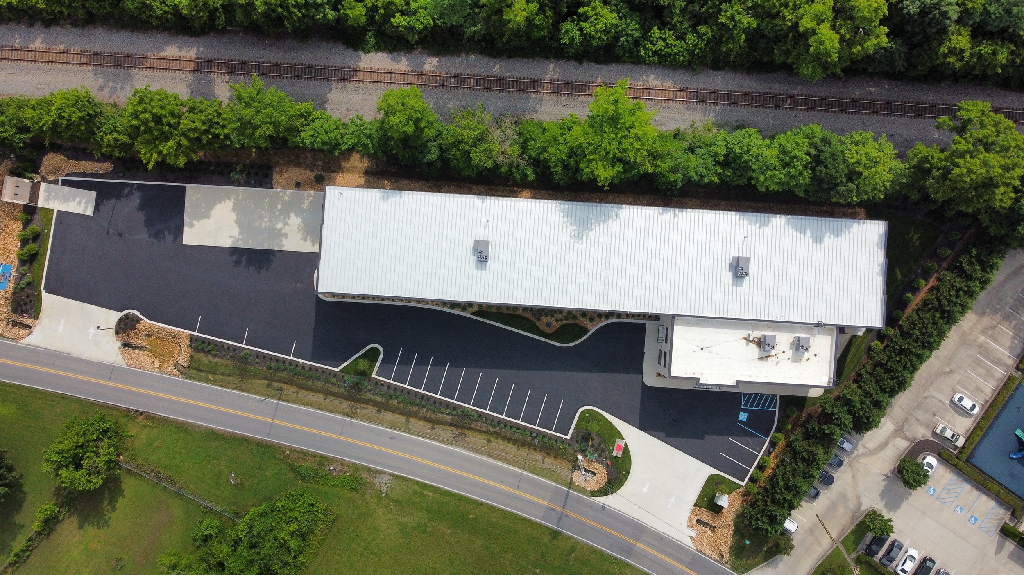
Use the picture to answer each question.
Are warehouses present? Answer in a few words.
Yes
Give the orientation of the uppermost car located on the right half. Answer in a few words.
at an angle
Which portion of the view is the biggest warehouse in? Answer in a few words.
center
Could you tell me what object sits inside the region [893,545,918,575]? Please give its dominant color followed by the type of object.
white car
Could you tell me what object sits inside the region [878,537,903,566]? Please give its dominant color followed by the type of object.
gray car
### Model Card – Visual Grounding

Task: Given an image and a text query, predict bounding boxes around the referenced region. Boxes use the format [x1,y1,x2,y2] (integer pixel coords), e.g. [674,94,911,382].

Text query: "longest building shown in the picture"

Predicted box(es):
[315,185,890,329]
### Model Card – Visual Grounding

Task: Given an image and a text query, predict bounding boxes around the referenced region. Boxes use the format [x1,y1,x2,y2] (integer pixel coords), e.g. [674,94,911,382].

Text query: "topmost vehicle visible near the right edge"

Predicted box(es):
[949,391,979,416]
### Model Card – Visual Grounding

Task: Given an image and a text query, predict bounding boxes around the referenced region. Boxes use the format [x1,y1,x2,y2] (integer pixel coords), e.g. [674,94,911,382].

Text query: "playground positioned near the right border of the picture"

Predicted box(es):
[969,381,1024,498]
